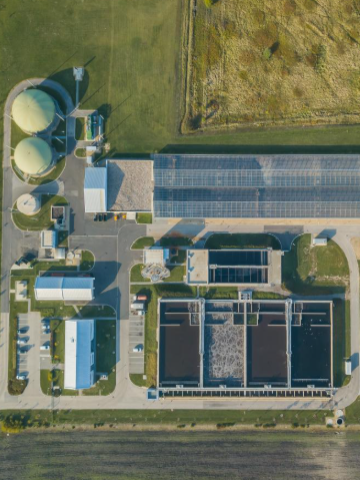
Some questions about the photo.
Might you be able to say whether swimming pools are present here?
No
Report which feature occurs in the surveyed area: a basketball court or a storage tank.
storage tank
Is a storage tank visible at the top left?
Yes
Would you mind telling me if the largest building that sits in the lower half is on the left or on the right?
left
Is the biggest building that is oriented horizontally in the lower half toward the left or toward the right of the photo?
left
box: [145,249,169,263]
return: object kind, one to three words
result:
house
